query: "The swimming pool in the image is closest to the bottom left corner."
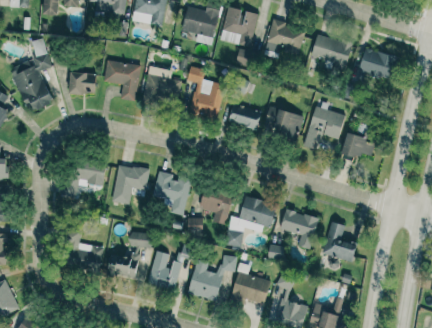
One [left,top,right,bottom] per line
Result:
[113,222,127,236]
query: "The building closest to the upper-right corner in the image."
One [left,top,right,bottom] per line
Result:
[360,49,390,74]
